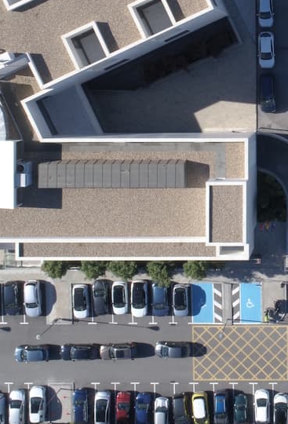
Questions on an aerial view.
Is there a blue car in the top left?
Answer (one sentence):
No, there's no blue car to be seen in the top left.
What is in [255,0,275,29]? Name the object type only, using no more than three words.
car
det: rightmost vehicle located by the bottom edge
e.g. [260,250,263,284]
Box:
[272,392,288,424]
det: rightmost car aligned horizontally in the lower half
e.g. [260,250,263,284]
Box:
[156,342,193,359]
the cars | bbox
[72,284,89,317]
[134,391,152,424]
[232,393,248,423]
[111,281,128,314]
[212,389,229,423]
[92,391,112,424]
[114,391,132,424]
[129,280,148,316]
[27,386,46,423]
[258,73,277,113]
[61,344,97,362]
[100,343,136,362]
[256,31,275,70]
[72,388,90,424]
[0,392,7,424]
[153,397,169,424]
[24,280,42,316]
[156,342,193,359]
[171,284,189,316]
[15,344,50,363]
[90,280,109,314]
[255,0,275,29]
[253,388,270,422]
[193,391,209,424]
[151,283,168,316]
[2,281,22,315]
[7,389,27,424]
[272,392,288,424]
